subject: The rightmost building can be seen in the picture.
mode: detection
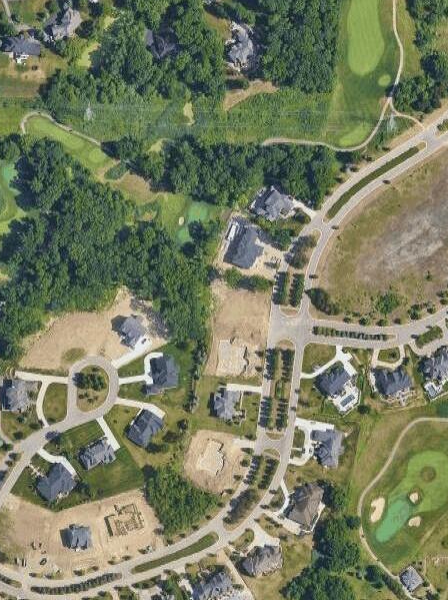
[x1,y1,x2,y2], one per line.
[420,345,448,381]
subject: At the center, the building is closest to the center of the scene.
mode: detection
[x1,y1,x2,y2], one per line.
[227,224,264,270]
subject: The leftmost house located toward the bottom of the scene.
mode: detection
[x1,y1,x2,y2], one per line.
[0,380,30,411]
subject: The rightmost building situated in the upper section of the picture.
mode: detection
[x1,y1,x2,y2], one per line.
[257,185,297,221]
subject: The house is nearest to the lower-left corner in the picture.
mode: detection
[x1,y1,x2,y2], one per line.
[68,525,93,550]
